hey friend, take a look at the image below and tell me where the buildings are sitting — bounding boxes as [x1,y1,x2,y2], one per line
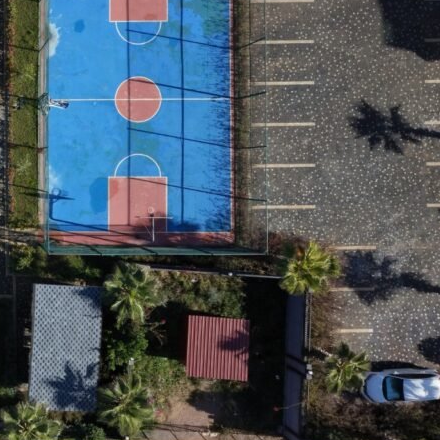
[179,312,249,381]
[26,278,101,413]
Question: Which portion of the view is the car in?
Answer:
bottom right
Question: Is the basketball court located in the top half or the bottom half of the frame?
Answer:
top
